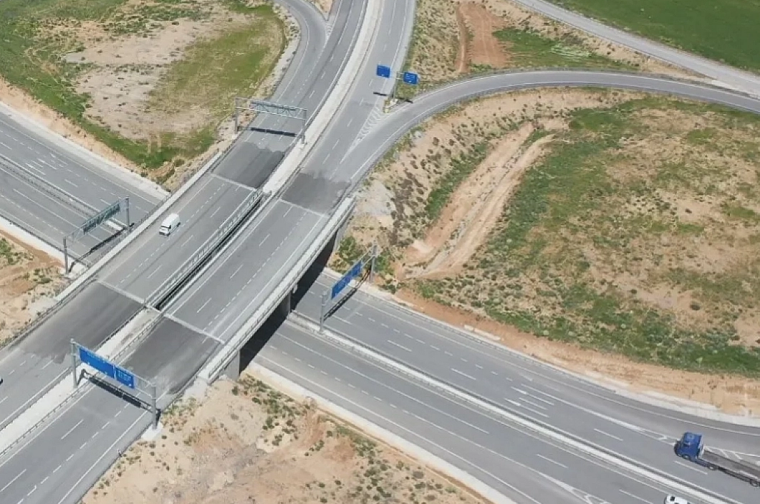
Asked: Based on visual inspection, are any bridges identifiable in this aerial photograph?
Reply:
Yes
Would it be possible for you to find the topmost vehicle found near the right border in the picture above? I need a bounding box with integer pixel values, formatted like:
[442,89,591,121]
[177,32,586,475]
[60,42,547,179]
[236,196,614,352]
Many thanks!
[678,435,760,486]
